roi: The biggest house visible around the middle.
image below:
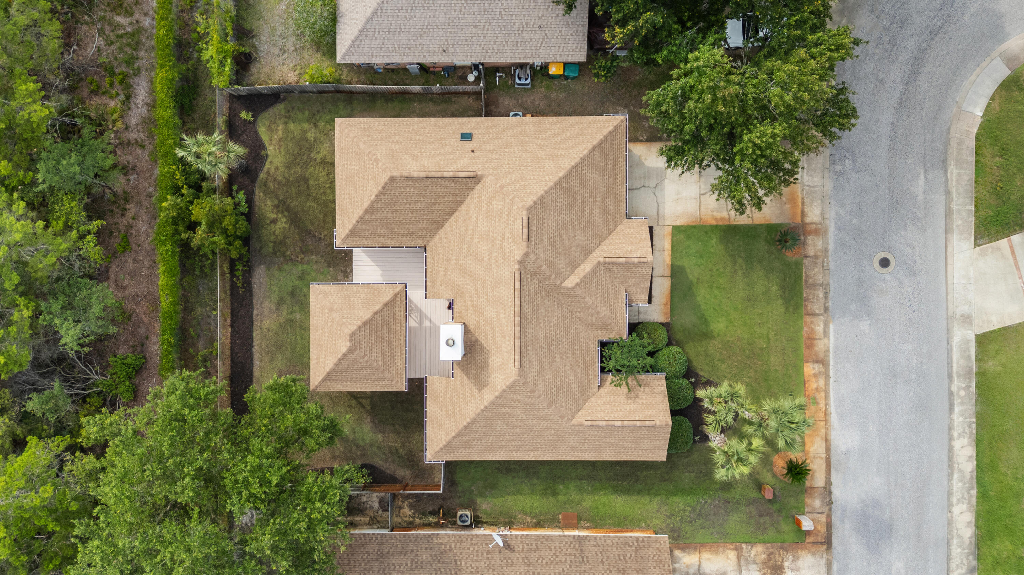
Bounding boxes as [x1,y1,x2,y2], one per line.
[333,114,672,463]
